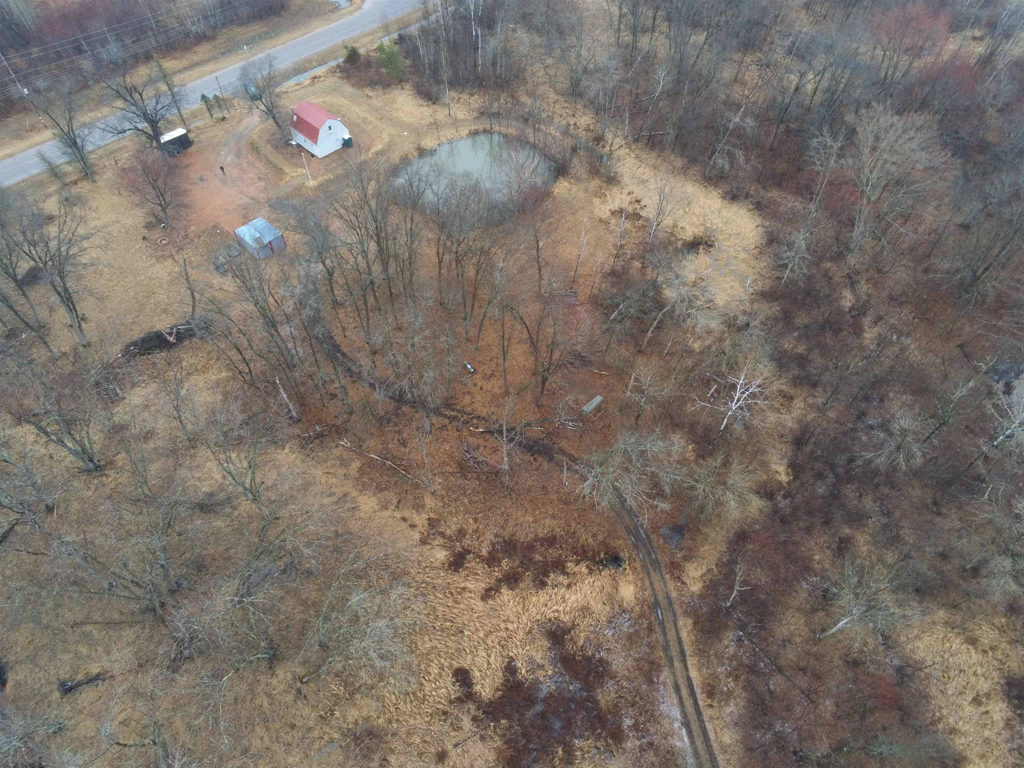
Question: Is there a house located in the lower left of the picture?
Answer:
No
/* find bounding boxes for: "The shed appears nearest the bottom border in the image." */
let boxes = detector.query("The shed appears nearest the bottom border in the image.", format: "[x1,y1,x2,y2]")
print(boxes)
[237,218,286,260]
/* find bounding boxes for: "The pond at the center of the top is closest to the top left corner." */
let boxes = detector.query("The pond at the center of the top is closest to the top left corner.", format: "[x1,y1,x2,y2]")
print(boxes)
[392,133,555,221]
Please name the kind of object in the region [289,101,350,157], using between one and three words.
house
